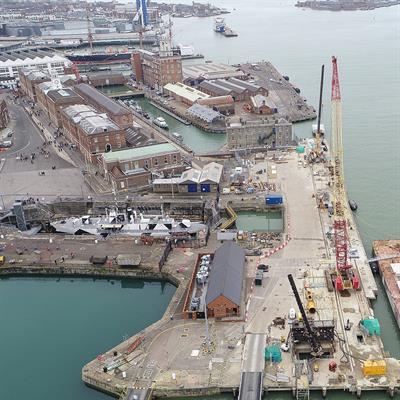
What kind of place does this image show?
port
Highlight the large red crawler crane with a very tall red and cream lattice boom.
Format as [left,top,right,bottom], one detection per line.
[320,55,364,304]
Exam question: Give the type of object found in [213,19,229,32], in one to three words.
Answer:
ship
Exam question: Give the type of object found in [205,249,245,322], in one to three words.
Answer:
building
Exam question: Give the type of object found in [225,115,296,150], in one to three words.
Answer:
building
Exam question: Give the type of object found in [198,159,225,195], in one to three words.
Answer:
shed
